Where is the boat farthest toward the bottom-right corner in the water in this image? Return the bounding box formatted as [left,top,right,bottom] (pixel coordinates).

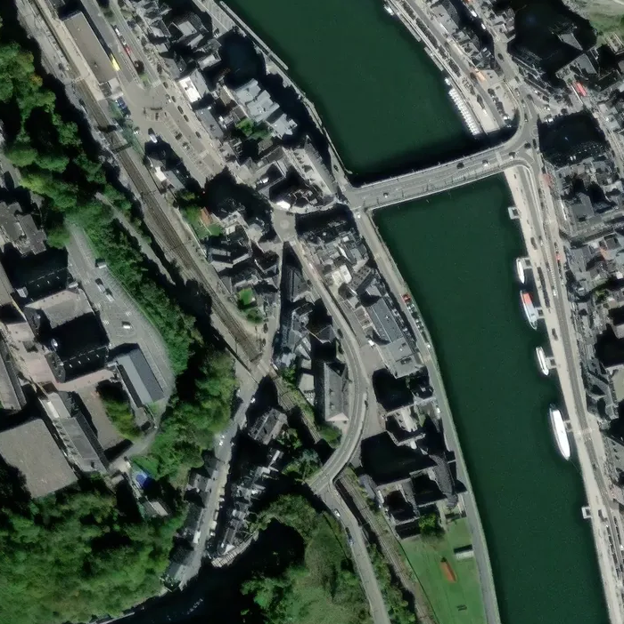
[548,405,569,459]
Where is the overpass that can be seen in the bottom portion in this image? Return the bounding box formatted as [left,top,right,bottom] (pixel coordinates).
[309,368,374,491]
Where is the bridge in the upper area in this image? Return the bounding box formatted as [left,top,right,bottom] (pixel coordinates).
[341,134,532,216]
